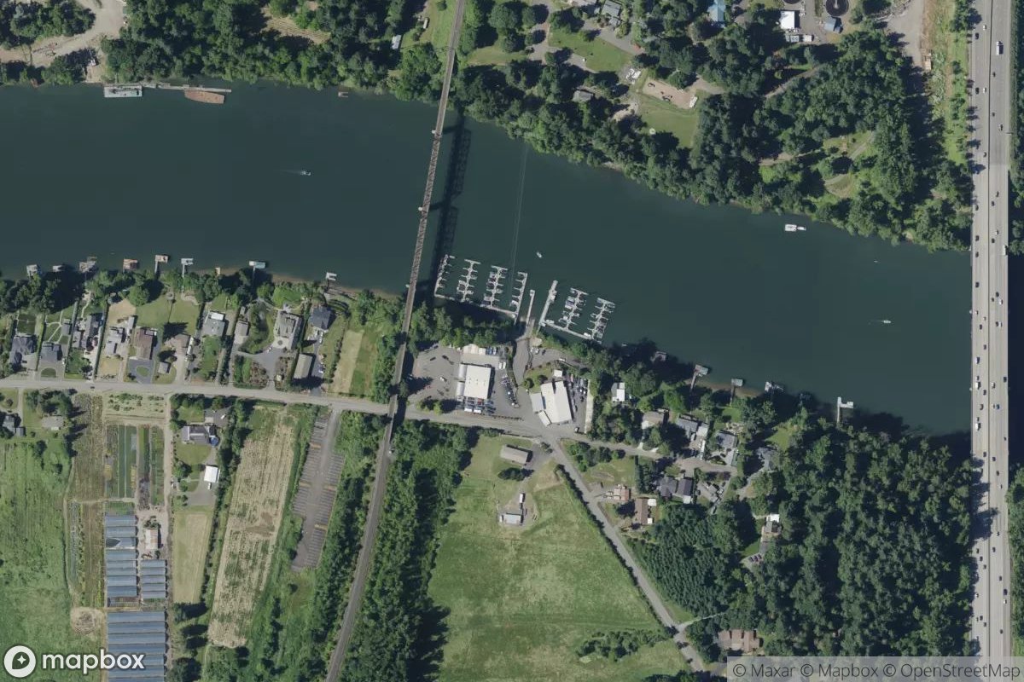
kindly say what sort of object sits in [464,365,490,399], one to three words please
building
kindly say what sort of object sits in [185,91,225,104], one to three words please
ship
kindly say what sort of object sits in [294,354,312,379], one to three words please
barn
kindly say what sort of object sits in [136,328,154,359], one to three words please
house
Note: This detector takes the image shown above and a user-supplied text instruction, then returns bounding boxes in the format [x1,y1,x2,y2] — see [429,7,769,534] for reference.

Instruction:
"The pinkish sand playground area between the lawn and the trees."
[643,78,698,108]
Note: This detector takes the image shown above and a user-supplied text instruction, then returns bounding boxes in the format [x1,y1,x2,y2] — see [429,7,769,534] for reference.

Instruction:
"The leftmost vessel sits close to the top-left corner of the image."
[104,85,143,98]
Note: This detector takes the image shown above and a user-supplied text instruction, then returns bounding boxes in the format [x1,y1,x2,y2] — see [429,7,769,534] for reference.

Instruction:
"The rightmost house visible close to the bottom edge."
[725,632,754,652]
